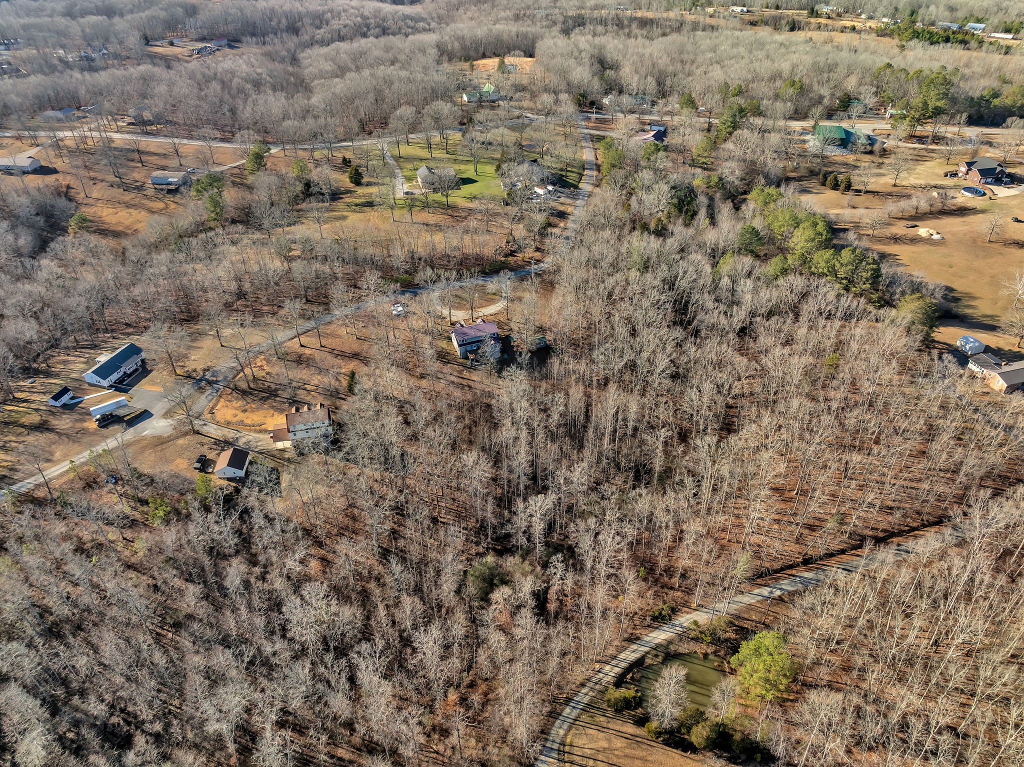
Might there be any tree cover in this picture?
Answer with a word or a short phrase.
Yes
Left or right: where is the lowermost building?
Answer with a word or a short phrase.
left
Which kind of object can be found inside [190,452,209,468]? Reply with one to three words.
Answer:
vehicle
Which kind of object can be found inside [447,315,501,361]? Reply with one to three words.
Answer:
house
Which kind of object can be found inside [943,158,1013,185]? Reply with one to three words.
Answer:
house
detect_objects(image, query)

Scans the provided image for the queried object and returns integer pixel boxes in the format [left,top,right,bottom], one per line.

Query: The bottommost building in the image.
[212,438,256,479]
